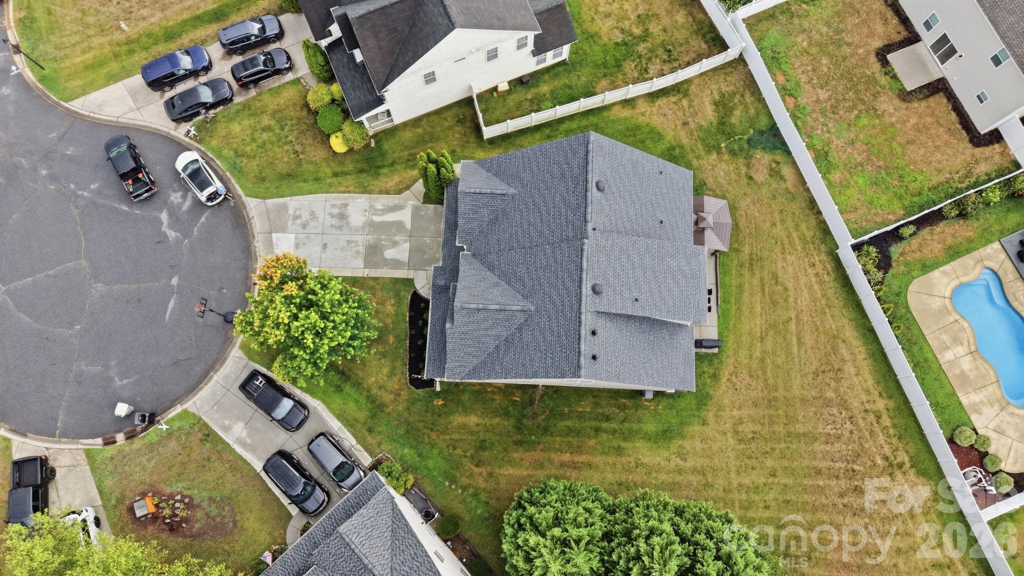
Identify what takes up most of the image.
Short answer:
grass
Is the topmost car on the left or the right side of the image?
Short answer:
left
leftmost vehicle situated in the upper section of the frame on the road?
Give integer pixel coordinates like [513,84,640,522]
[105,132,160,205]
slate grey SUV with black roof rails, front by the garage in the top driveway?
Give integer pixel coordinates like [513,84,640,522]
[218,13,283,56]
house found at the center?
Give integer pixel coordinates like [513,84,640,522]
[424,133,710,392]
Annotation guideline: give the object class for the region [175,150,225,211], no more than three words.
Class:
car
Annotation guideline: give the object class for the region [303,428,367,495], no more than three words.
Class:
car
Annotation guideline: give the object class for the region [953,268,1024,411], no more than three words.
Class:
swimming pool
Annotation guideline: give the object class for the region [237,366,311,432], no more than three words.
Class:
truck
